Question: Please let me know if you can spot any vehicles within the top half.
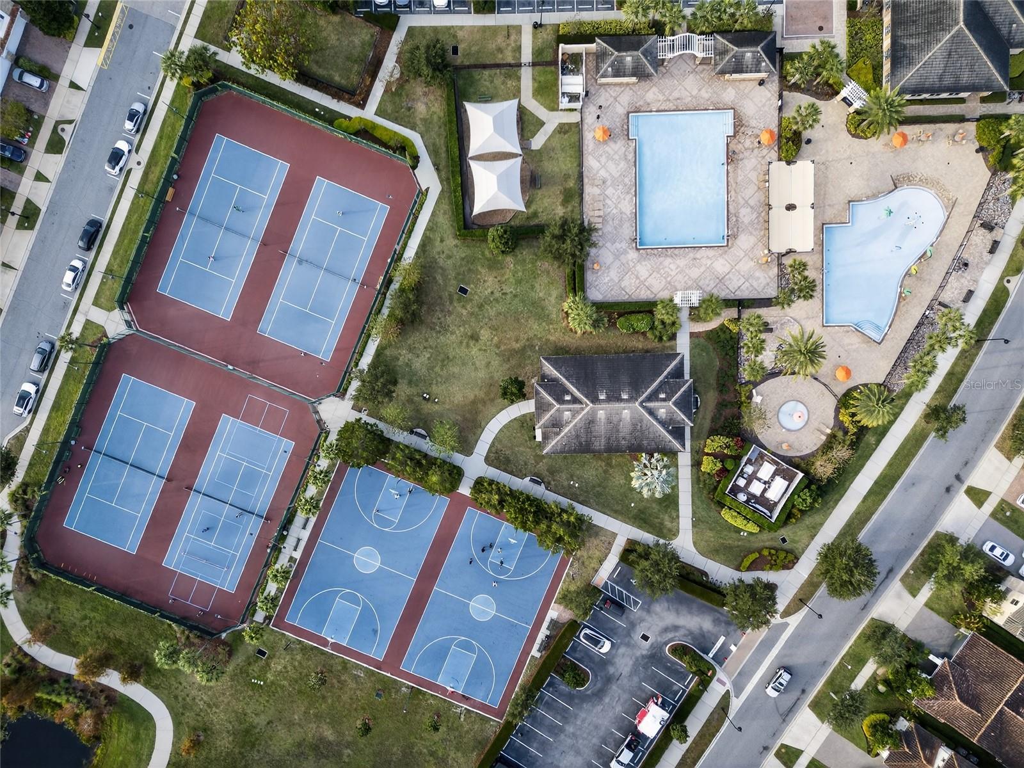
Yes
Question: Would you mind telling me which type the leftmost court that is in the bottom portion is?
tennis court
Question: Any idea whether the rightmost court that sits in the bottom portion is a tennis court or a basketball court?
basketball court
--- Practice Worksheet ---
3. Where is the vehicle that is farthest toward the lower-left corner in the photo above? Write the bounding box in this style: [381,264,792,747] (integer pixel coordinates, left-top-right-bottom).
[13,382,40,416]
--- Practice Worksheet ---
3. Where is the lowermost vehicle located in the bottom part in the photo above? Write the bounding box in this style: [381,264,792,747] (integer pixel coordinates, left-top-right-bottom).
[608,736,640,768]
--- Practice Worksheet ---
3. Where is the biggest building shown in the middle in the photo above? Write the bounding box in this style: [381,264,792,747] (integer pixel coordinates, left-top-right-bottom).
[534,353,702,454]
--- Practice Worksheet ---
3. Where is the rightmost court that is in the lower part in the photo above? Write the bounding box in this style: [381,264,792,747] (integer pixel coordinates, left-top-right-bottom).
[388,494,574,721]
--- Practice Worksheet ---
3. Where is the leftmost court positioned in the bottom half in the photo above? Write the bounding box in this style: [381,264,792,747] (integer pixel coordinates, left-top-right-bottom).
[36,332,225,597]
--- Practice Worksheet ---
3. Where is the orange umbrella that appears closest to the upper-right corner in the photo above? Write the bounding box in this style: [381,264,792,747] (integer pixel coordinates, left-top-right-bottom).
[890,131,908,148]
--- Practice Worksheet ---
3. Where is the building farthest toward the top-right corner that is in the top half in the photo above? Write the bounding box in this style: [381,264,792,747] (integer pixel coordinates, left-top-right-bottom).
[883,0,1024,97]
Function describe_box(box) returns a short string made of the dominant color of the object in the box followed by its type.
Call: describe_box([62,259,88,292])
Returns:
white car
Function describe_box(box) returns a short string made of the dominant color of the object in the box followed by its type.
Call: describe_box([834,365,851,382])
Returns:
orange umbrella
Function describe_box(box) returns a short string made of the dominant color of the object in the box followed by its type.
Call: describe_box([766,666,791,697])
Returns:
white car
